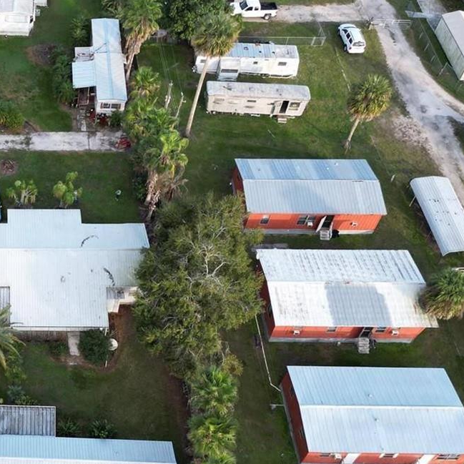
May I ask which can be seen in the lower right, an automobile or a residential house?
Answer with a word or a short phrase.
residential house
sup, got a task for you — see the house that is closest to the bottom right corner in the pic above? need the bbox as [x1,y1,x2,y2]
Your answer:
[280,367,464,464]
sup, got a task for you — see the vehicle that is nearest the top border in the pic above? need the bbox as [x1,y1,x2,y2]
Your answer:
[230,0,280,19]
